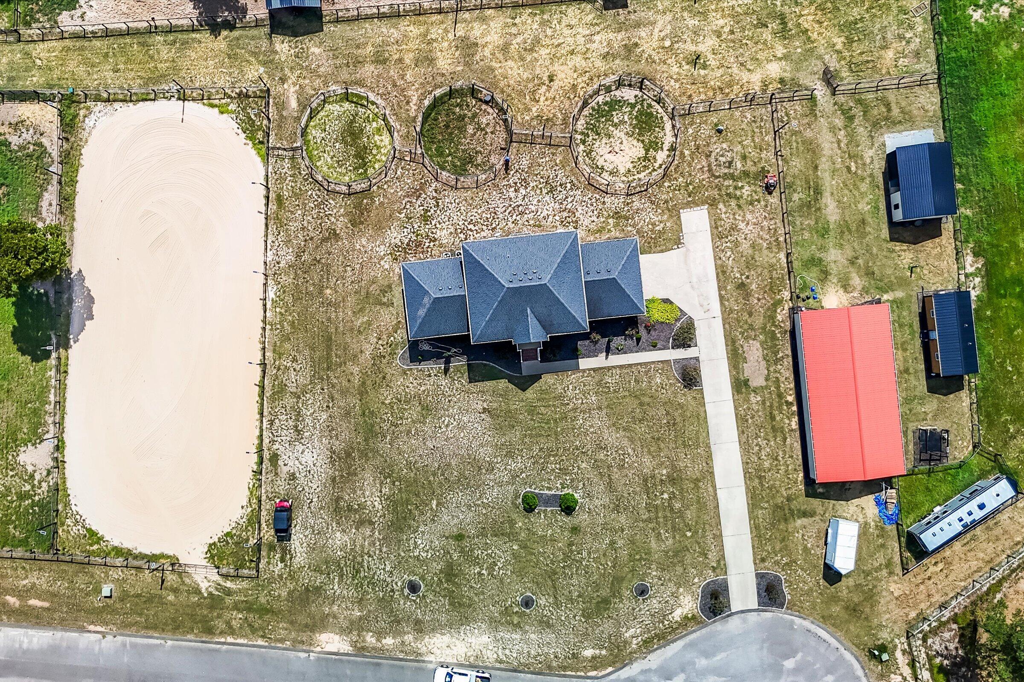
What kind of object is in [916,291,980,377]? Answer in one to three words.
building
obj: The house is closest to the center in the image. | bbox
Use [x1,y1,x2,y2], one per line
[400,229,647,361]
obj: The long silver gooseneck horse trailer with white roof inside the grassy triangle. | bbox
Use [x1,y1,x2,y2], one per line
[906,473,1016,552]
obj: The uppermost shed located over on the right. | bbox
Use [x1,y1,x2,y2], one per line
[884,129,957,222]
